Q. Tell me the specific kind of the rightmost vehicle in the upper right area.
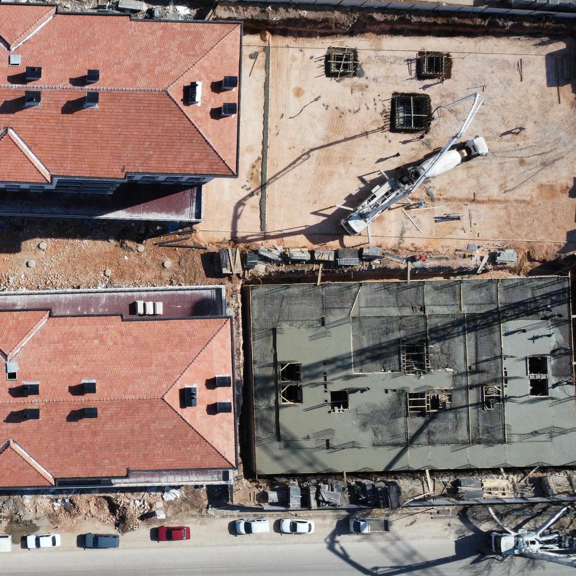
truck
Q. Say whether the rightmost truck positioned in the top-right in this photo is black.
No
